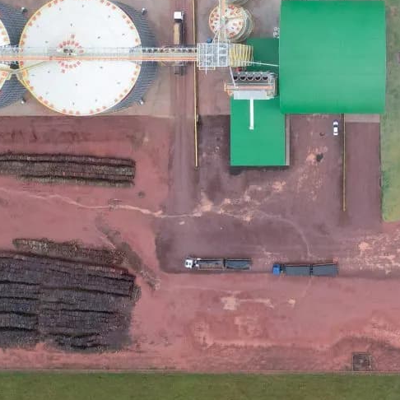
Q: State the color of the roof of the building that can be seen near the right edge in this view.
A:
green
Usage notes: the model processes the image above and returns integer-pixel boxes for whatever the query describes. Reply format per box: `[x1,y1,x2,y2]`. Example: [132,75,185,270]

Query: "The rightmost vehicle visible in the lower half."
[272,261,338,276]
